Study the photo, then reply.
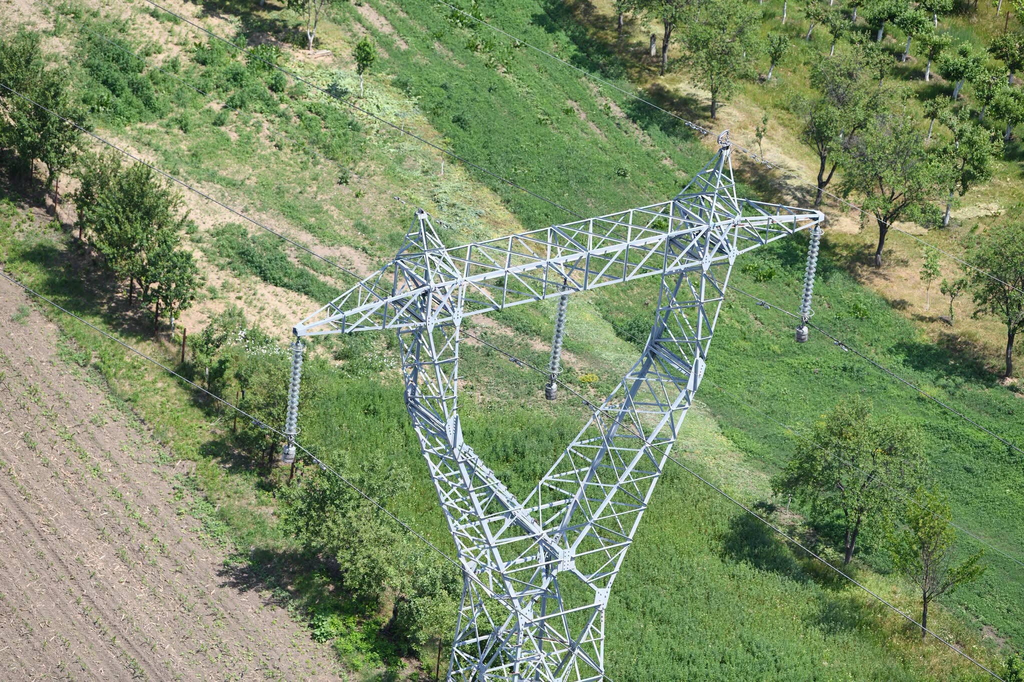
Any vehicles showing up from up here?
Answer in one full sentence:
No, I can see no vehicle in this picture.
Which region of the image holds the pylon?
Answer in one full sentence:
The pylon appears toward the center of the photo.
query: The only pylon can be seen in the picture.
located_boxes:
[292,139,826,682]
